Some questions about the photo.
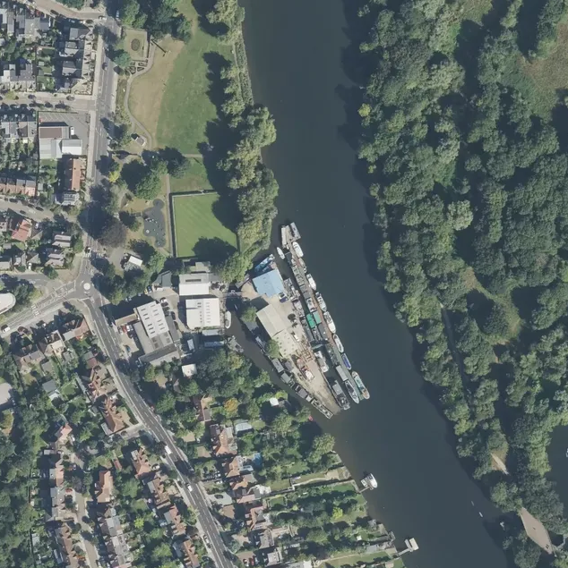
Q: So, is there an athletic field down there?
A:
Yes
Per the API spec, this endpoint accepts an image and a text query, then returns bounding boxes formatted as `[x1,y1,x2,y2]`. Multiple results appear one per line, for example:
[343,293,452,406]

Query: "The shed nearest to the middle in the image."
[253,268,285,299]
